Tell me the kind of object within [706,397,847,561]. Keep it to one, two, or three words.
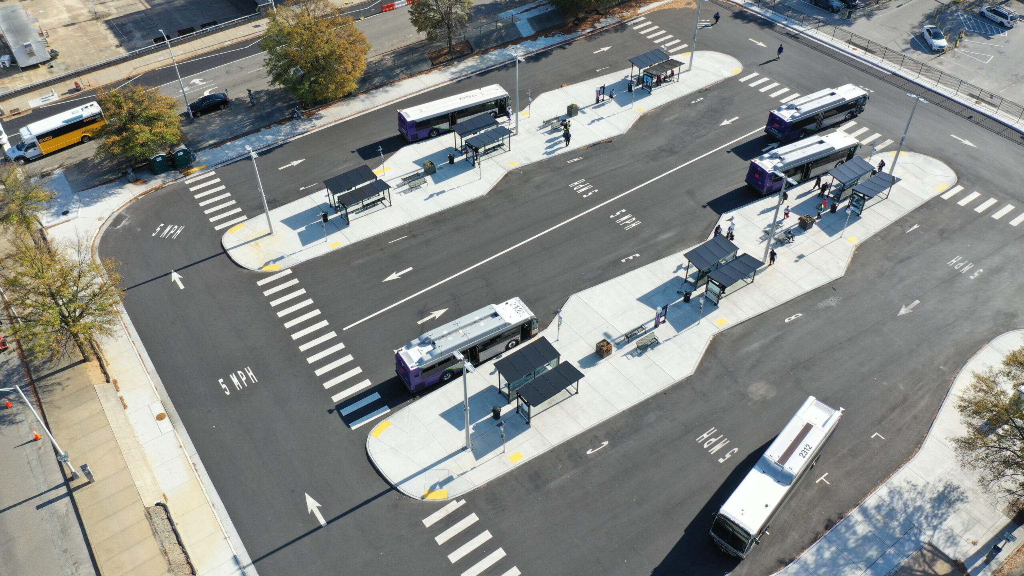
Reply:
bus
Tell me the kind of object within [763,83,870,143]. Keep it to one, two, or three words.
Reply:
bus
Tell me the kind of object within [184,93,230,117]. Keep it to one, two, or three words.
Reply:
car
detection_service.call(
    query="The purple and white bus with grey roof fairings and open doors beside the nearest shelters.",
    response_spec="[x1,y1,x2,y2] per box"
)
[388,296,538,395]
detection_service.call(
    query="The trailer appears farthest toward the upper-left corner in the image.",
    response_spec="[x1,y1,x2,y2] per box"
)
[0,1,47,66]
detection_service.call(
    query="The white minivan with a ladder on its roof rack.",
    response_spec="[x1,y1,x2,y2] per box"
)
[980,3,1021,27]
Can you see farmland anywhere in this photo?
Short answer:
No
